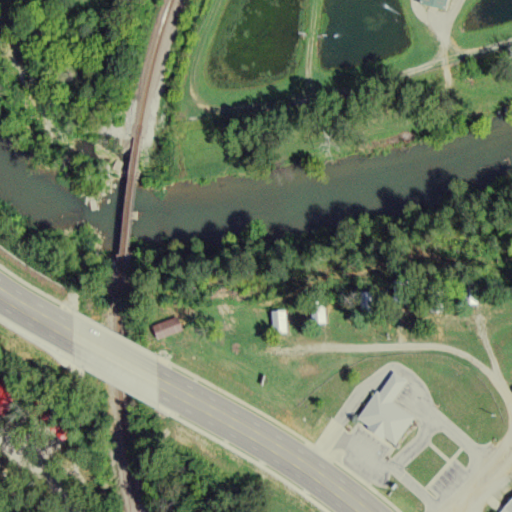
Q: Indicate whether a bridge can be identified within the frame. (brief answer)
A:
Yes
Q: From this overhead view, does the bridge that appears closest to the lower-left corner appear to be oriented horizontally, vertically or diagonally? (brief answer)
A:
diagonally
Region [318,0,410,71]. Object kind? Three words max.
pond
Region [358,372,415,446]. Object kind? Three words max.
building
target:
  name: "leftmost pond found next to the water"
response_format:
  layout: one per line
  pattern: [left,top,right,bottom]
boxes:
[214,0,300,88]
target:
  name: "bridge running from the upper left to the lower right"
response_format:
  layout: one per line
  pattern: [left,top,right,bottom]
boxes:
[69,306,161,413]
